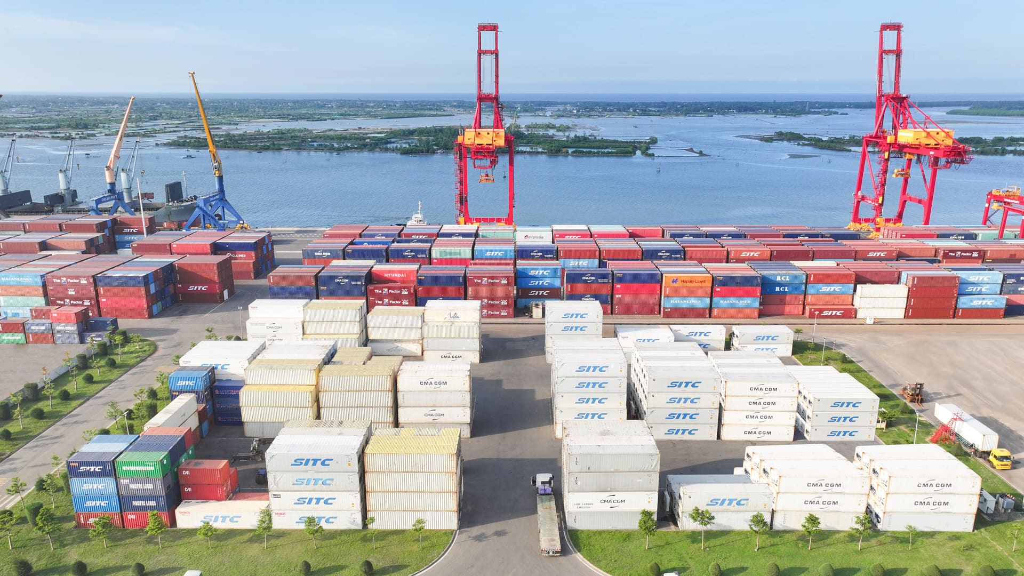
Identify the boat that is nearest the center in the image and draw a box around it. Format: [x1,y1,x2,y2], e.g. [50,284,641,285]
[392,201,436,227]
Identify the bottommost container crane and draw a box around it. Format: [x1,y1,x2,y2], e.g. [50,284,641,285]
[985,187,1024,239]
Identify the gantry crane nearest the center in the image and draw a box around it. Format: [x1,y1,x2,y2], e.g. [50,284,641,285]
[453,21,523,239]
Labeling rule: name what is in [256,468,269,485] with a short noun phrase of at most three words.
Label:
vehicle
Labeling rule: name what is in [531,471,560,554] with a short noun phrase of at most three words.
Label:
truck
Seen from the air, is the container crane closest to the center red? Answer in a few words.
Yes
